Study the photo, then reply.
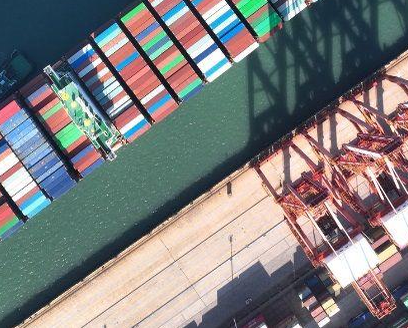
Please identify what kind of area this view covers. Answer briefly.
port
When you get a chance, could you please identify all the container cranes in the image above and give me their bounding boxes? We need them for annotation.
[341,68,408,168]
[246,133,400,320]
[293,100,408,247]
